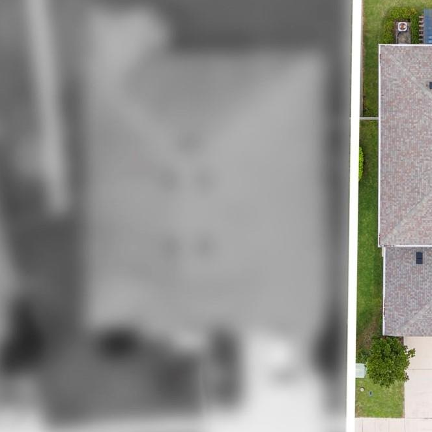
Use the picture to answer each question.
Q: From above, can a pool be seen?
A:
No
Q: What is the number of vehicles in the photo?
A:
0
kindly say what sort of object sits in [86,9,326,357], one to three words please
house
